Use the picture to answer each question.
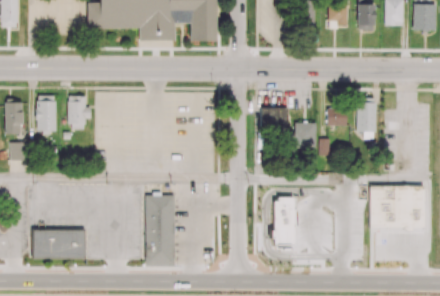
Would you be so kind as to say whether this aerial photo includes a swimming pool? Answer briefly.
No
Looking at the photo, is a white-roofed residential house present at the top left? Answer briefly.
Yes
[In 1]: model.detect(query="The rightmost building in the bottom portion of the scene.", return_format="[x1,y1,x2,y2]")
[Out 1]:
[370,185,422,228]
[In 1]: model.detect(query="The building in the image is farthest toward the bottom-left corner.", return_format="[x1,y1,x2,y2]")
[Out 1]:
[32,229,84,259]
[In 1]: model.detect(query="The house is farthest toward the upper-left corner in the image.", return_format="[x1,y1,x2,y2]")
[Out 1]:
[0,0,18,28]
